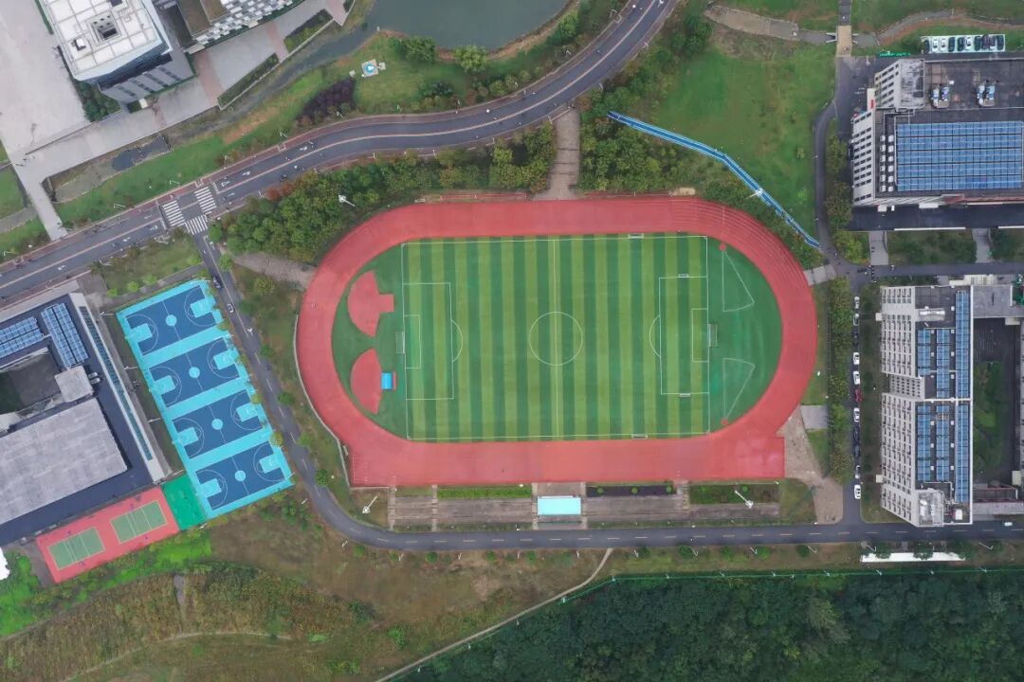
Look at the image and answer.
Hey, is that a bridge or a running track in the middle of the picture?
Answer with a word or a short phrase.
running track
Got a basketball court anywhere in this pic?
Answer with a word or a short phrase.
Yes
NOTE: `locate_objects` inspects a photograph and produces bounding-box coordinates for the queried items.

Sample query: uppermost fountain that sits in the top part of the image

[361,58,378,77]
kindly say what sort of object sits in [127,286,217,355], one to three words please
basketball court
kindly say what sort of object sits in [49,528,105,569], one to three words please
sports court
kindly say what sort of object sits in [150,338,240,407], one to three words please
basketball court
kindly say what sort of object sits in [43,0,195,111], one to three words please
building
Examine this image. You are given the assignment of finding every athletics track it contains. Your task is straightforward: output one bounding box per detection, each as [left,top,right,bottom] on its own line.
[297,195,818,487]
